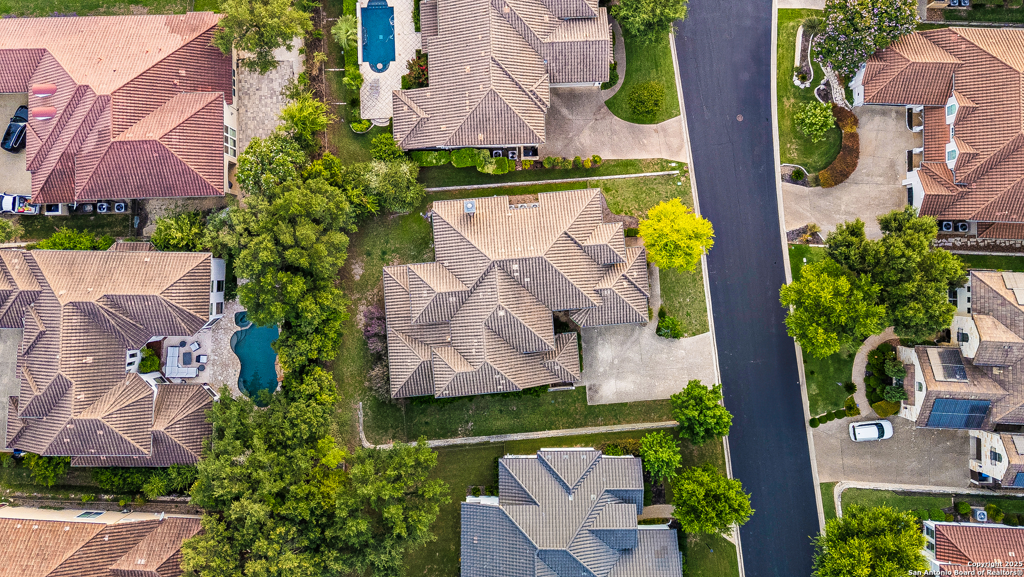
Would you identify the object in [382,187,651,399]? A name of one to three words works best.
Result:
house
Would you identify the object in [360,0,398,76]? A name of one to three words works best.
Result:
swimming pool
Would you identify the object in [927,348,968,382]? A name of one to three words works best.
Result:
solar panel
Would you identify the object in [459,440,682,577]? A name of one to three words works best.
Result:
house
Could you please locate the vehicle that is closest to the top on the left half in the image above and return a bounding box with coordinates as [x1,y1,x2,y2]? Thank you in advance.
[0,104,27,155]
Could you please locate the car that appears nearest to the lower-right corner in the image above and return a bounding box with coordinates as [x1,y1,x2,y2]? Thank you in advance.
[845,419,893,442]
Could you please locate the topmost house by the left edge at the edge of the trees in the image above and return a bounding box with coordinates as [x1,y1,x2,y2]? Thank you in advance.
[0,11,240,205]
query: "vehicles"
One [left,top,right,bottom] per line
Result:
[845,419,893,442]
[0,194,39,216]
[0,104,27,155]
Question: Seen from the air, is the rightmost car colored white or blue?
white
